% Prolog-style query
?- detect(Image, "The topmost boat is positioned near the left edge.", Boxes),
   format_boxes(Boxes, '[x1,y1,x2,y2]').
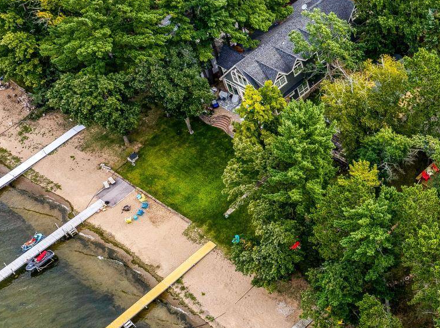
[19,232,46,251]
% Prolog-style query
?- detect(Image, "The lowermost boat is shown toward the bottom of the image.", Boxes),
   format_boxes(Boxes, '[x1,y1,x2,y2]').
[28,250,57,276]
